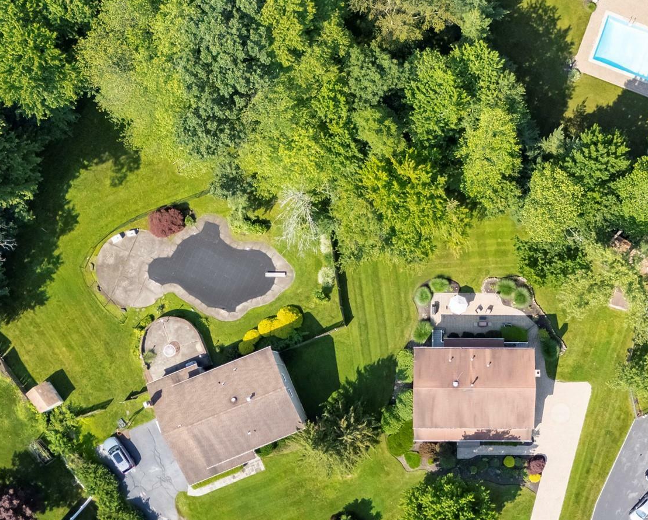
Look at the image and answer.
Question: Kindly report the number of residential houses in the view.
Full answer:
There are 2 residential houses in the image.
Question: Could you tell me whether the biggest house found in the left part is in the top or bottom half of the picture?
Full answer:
The bottom half of the photo is where the biggest house found in the left part is.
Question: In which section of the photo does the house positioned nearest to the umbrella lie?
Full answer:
The house positioned nearest to the umbrella is located in the bottom right region of the scene.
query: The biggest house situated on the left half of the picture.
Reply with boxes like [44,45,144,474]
[140,346,309,486]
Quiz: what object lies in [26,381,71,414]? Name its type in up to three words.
shed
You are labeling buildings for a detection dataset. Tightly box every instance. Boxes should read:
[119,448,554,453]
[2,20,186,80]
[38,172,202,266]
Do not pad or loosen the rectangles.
[140,346,309,486]
[26,381,71,414]
[413,330,542,448]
